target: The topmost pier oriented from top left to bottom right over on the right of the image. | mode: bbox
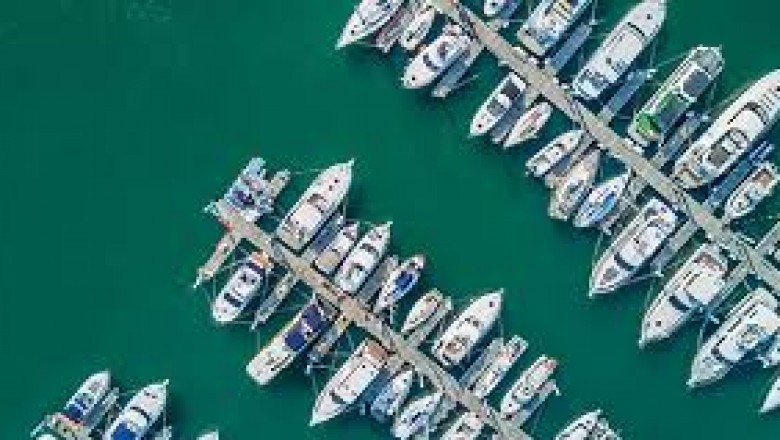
[422,0,780,293]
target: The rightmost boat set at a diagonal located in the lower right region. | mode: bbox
[690,283,780,387]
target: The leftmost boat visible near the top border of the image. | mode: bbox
[335,0,411,47]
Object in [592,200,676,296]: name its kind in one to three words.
boat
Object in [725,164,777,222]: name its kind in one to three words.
boat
